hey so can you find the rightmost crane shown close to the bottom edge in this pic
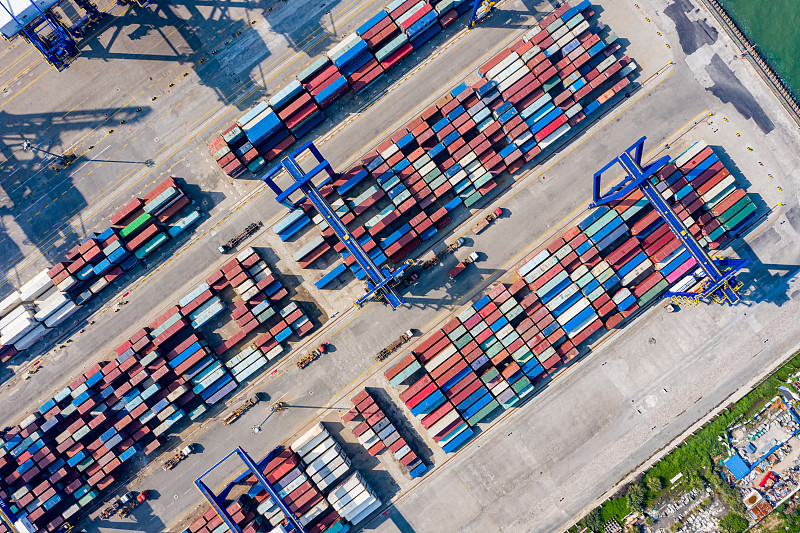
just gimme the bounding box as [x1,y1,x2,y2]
[190,445,309,533]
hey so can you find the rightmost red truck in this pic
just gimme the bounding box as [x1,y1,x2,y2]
[756,470,780,492]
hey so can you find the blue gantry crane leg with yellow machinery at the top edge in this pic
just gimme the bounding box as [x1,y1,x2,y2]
[466,0,506,30]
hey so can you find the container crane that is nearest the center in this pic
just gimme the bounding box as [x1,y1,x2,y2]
[262,138,410,310]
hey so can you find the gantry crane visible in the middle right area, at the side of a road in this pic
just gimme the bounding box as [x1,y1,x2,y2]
[593,138,748,310]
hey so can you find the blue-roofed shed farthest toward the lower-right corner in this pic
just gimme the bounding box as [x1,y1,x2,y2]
[723,453,752,481]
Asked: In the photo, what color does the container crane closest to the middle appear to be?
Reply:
blue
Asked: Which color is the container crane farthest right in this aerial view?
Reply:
blue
